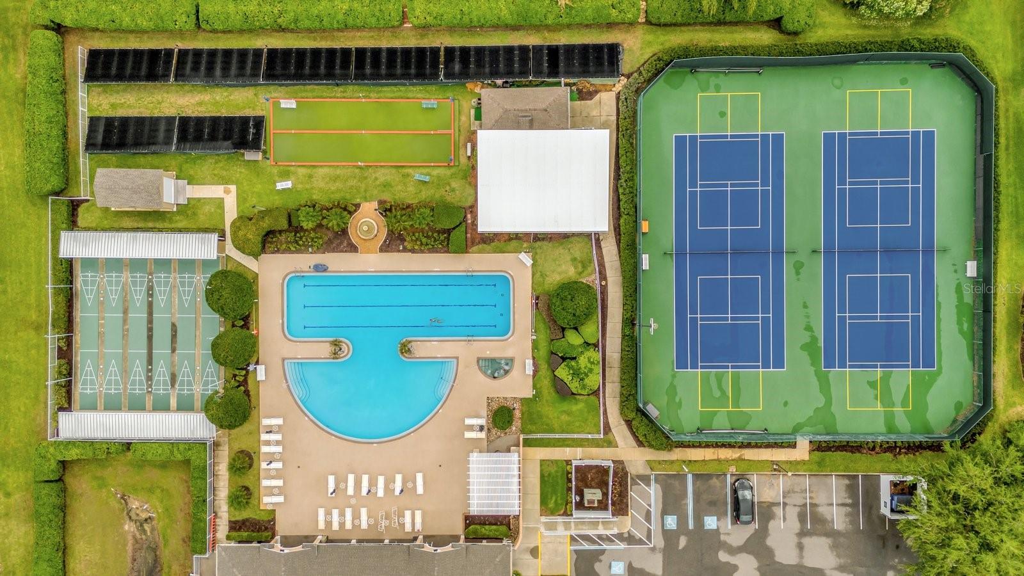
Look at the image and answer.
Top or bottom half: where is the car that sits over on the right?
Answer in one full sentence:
It is in the bottom half that the car that sits over on the right appears.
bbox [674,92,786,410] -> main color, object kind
blue tennis court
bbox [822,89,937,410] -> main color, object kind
blue tennis court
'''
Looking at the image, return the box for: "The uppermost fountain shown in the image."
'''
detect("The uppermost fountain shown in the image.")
[356,218,378,239]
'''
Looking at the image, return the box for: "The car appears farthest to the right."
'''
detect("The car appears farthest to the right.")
[734,480,757,527]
